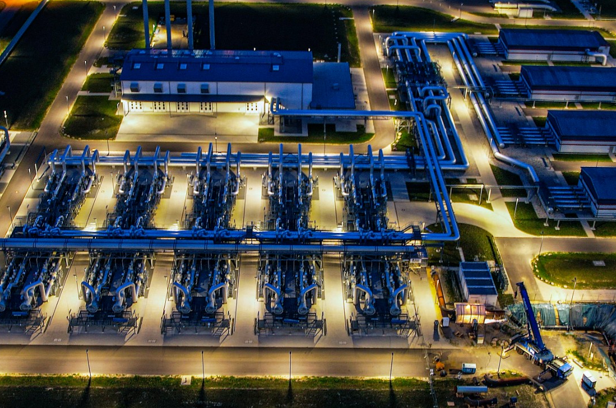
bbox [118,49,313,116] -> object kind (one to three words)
building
